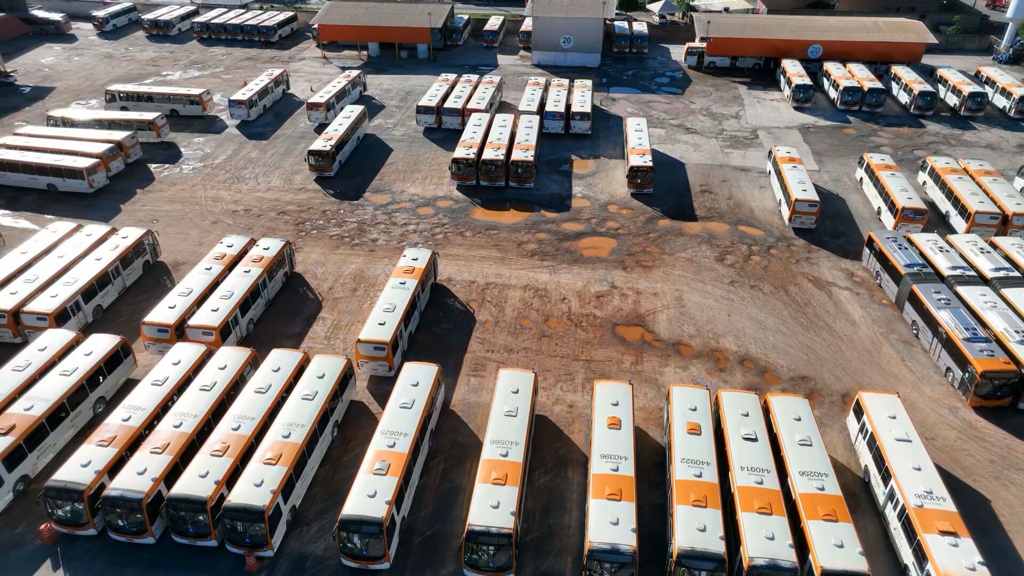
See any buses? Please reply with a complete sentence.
Yes, a bus can be made out from above.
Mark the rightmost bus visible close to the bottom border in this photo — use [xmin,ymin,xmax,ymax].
[848,394,987,576]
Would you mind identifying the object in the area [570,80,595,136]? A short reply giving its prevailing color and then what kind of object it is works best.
white bus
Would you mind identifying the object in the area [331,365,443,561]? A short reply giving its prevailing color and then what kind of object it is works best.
white bus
